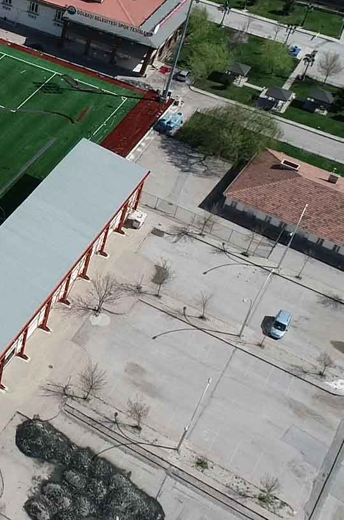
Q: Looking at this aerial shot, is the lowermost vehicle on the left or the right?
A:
right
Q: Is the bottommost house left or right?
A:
right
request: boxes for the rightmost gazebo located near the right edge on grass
[304,87,341,117]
